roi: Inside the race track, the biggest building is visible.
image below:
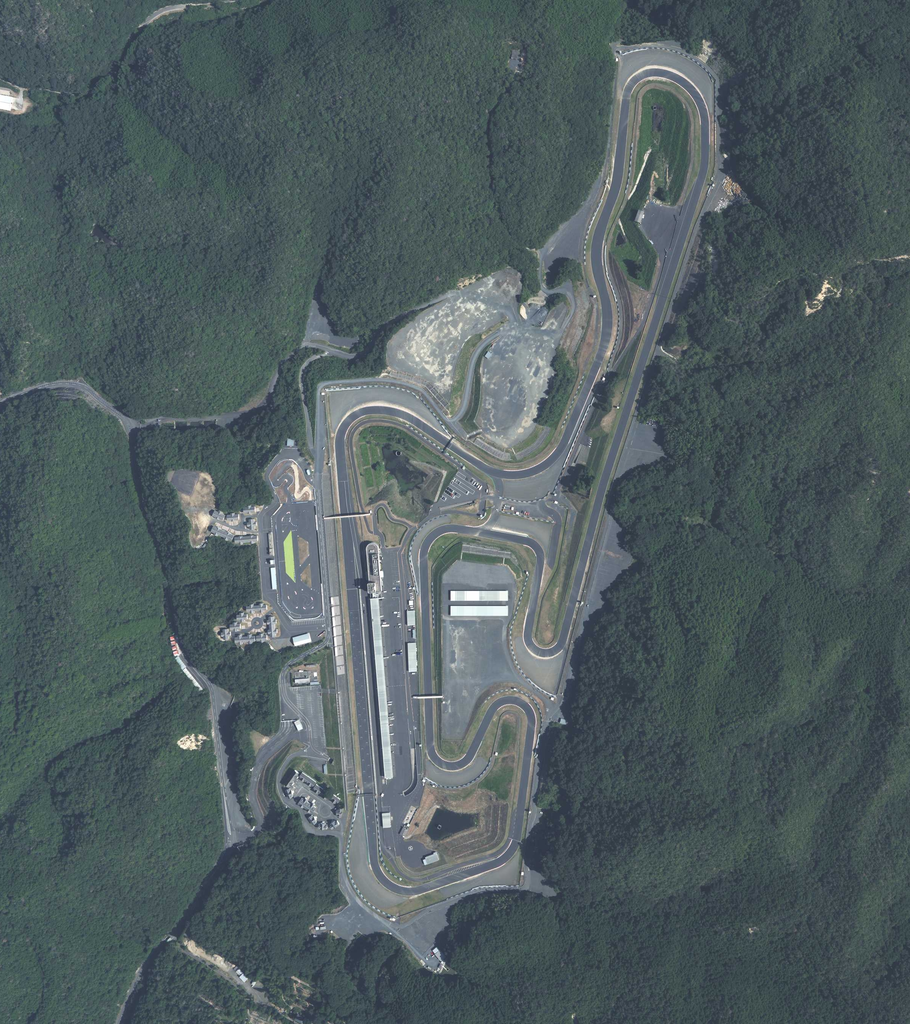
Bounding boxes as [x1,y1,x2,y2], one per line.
[369,598,393,783]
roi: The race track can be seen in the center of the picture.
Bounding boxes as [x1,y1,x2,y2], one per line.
[335,68,710,896]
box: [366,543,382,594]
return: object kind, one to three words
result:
building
